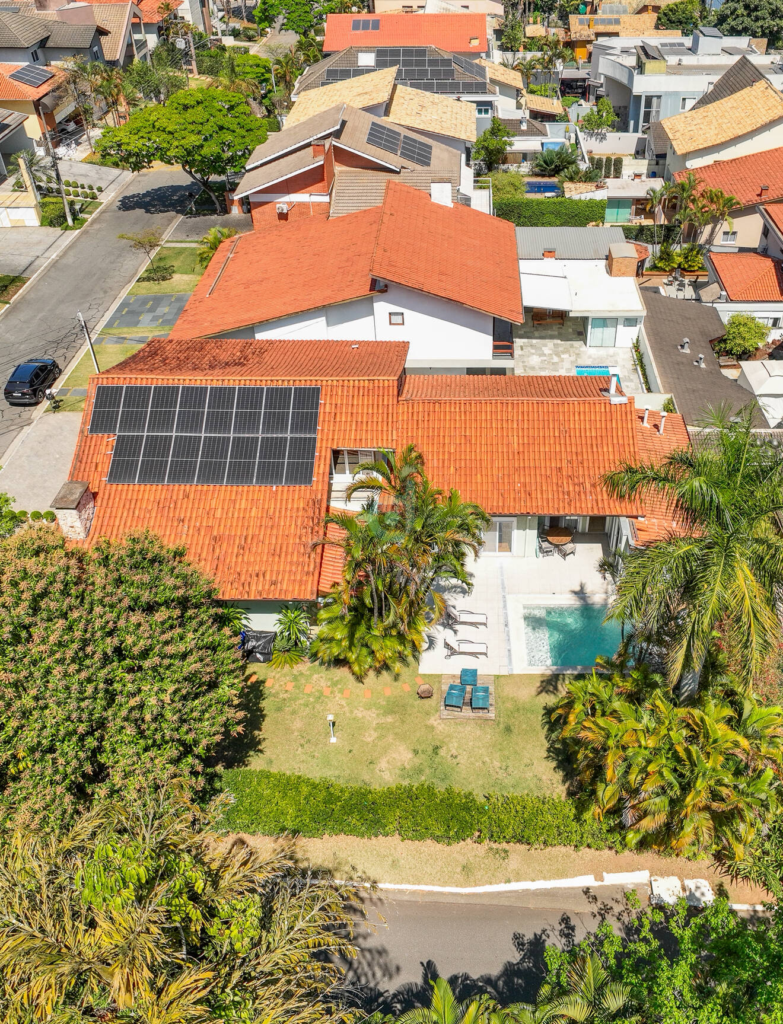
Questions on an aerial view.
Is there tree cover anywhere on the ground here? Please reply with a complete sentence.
Yes, tree cover shows up in the scene.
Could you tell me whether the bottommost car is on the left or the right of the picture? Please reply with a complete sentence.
The bottommost car appears in the left half of the scene.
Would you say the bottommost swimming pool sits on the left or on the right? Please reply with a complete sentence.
You can find the bottommost swimming pool on the right side of the picture.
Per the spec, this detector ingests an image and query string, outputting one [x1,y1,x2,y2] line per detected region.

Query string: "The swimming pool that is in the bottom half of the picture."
[523,604,660,665]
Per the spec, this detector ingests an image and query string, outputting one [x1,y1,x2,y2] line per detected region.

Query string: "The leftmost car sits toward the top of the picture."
[0,358,60,404]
